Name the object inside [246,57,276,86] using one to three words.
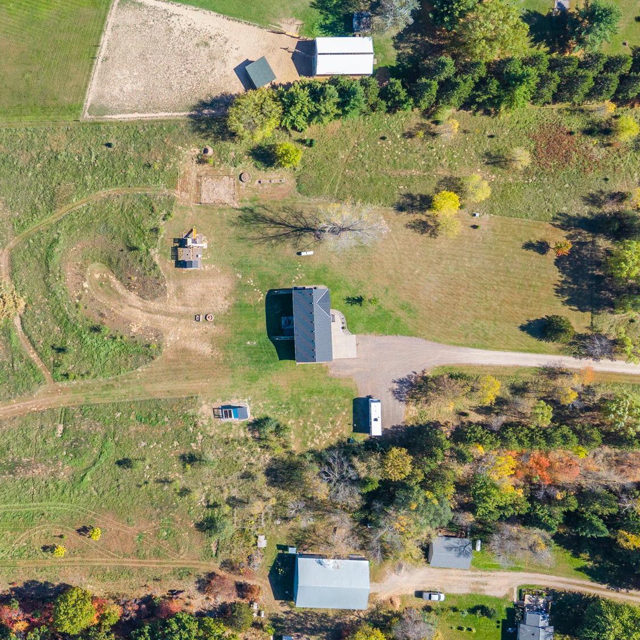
shed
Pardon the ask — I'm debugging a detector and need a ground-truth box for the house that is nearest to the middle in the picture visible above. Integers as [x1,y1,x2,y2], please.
[291,287,333,363]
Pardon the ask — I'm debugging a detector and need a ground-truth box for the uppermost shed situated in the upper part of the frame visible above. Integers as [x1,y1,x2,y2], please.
[352,13,371,36]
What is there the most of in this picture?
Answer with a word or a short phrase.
grass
